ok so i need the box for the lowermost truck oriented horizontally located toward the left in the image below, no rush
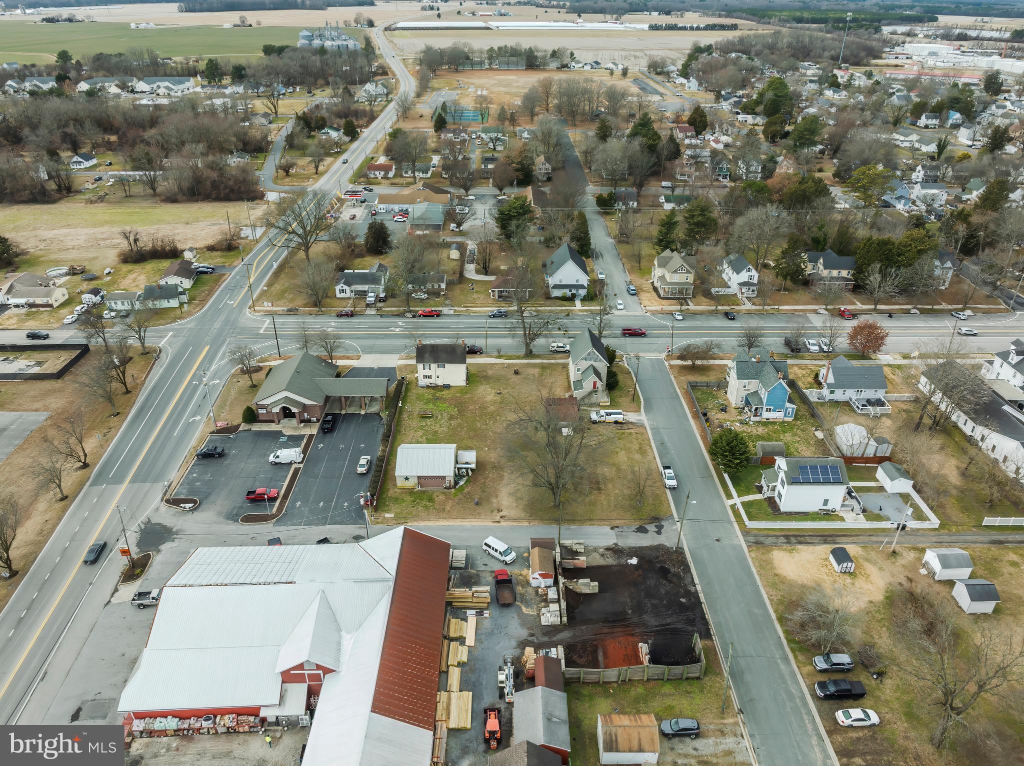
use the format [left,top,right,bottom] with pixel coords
[117,583,163,605]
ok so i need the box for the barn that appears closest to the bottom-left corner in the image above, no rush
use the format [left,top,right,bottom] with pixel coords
[105,520,451,766]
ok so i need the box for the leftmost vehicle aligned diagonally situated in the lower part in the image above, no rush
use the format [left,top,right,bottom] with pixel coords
[73,536,112,563]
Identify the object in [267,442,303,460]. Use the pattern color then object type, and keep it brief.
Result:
white vehicle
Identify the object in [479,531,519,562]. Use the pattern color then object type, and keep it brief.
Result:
white van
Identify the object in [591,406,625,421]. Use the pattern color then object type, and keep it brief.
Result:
white vehicle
